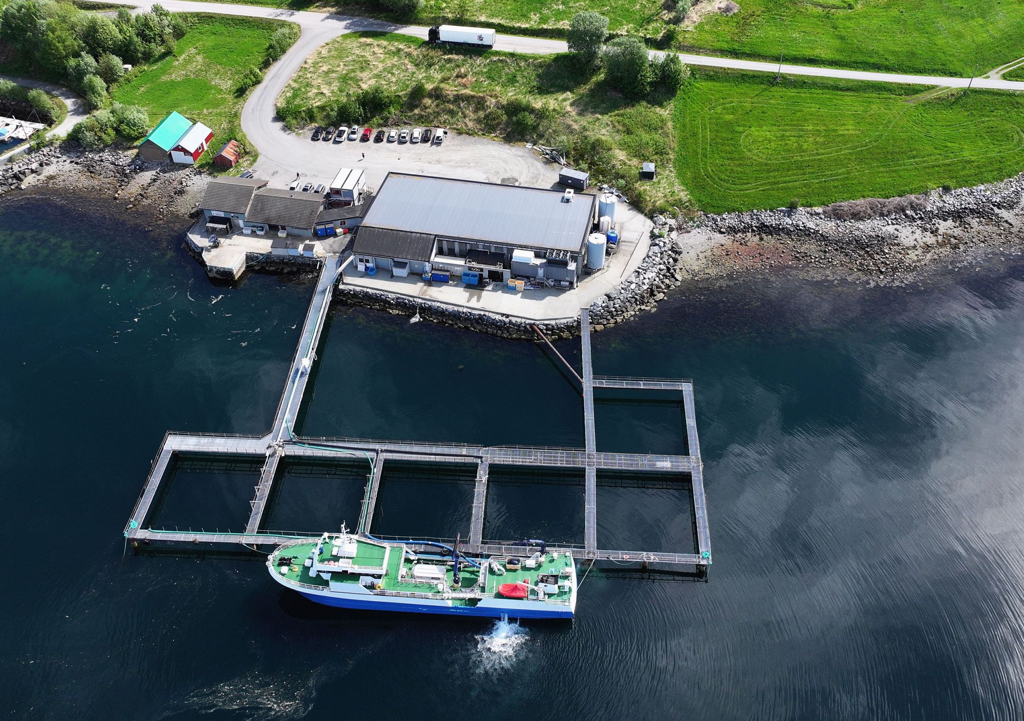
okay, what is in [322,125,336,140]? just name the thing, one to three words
car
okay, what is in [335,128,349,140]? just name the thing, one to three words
vehicle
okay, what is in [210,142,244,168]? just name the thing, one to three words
shed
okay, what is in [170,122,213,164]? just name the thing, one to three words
building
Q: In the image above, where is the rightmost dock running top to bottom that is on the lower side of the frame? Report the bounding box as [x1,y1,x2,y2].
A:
[579,309,597,559]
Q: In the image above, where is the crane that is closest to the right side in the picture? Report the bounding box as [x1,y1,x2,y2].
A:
[485,538,549,564]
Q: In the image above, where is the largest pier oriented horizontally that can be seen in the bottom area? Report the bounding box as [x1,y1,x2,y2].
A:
[122,375,713,570]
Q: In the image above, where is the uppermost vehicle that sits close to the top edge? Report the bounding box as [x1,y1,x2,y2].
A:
[429,26,495,50]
